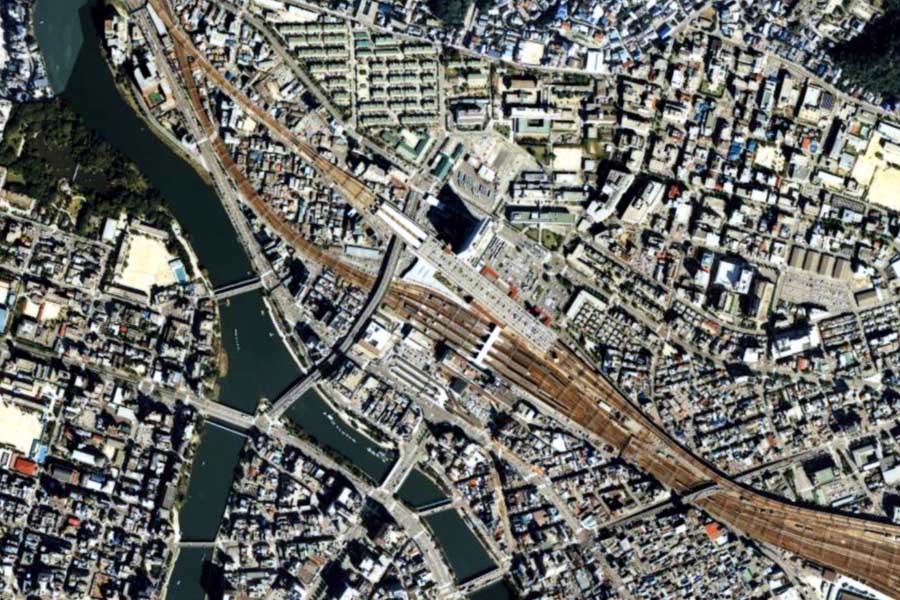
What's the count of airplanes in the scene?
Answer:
0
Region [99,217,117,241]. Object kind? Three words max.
building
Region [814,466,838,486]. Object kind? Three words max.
building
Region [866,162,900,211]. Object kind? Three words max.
sports field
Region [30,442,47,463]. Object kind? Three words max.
swimming pool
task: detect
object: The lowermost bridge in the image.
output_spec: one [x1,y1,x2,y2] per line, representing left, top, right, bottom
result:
[446,563,510,597]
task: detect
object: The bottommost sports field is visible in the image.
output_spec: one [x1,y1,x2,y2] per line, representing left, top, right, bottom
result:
[0,401,42,457]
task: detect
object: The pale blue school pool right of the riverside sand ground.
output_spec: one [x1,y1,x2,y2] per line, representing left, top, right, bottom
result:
[170,259,188,285]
